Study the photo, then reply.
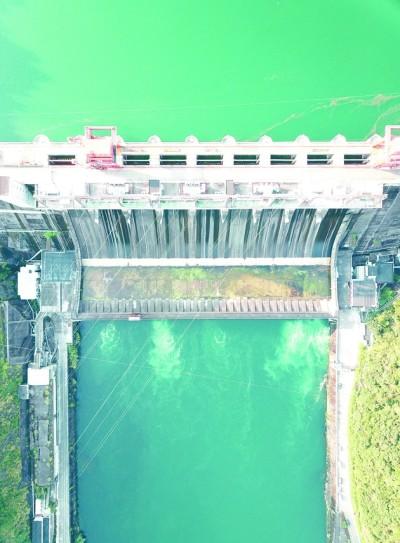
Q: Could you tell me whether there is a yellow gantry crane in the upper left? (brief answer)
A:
No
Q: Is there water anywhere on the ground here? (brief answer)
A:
Yes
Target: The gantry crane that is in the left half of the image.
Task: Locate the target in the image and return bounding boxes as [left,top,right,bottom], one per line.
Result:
[84,125,134,171]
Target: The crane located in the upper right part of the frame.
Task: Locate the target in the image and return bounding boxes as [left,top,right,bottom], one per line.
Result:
[368,125,400,171]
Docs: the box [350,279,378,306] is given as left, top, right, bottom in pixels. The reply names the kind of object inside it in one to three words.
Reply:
building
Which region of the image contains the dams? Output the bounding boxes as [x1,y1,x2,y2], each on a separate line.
[0,136,400,324]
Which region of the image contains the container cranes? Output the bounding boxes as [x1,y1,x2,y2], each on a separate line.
[368,125,400,171]
[84,125,134,171]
